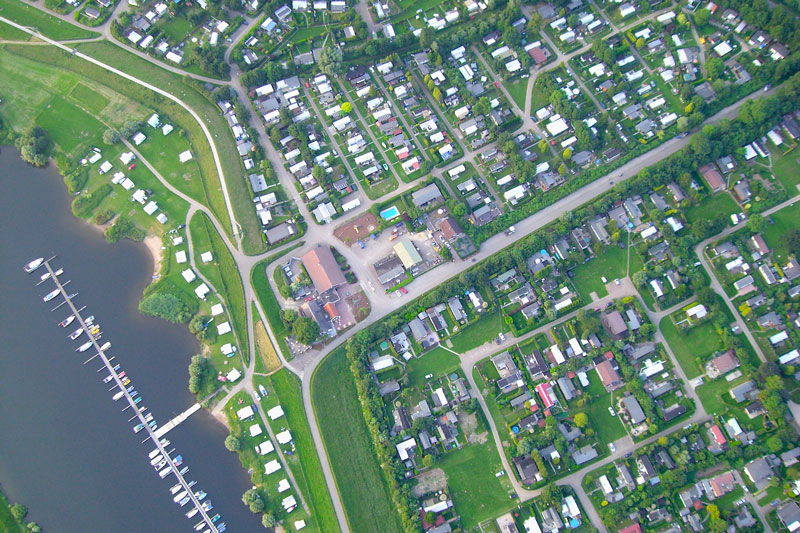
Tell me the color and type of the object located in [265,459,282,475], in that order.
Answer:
white camper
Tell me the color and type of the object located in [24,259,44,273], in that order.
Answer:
white boat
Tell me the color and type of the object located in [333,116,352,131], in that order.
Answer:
white camper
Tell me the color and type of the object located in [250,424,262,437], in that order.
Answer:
white vehicle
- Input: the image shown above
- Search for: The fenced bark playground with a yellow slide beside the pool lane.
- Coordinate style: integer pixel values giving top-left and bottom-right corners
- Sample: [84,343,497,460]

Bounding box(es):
[334,211,380,245]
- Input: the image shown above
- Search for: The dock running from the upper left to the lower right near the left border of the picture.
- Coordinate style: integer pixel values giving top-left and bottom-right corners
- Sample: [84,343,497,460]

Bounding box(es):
[35,256,219,533]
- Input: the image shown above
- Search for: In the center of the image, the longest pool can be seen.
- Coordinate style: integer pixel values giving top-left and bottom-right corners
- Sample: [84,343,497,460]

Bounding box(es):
[380,205,401,220]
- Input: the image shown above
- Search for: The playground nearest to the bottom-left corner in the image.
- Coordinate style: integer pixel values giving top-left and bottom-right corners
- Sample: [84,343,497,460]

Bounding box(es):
[346,289,370,321]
